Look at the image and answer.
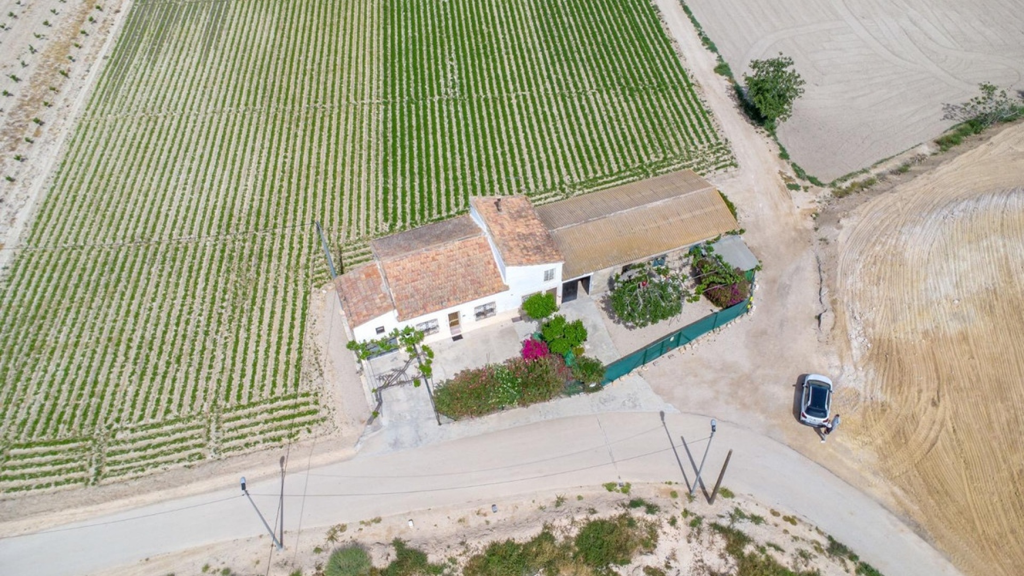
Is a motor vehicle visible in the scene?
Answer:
Yes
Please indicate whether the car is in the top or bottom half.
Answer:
bottom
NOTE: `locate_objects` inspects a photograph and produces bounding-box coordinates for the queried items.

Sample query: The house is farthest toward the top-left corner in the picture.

[335,193,564,349]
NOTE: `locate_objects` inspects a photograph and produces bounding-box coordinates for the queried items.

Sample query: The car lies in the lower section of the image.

[797,370,836,429]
